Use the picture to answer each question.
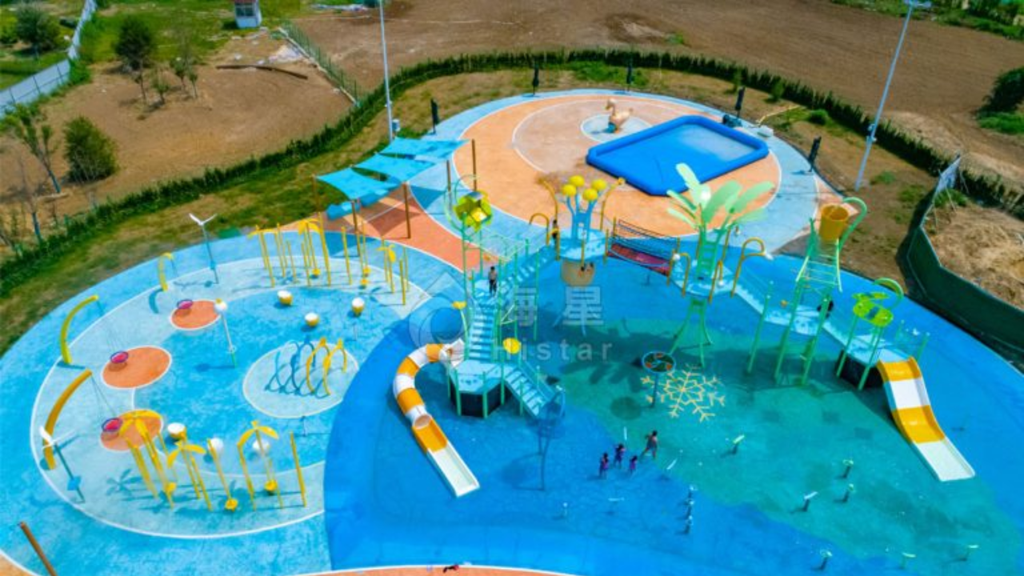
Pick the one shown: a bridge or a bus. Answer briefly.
bridge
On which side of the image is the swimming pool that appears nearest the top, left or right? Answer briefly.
right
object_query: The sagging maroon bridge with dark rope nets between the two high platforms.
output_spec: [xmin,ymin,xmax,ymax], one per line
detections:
[602,221,682,287]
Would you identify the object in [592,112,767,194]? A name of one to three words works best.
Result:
swimming pool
